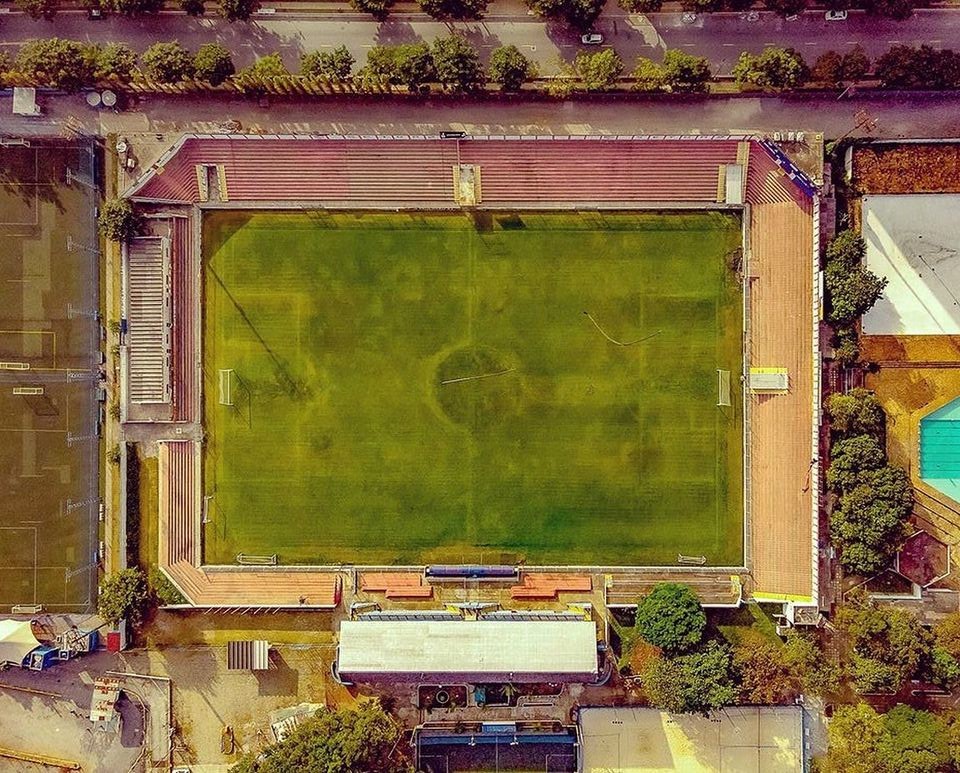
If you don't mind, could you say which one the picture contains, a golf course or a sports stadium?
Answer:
sports stadium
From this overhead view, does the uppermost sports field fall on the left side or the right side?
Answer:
left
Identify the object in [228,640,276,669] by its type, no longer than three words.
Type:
shed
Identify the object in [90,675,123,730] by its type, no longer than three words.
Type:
trailer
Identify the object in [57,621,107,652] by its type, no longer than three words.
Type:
trailer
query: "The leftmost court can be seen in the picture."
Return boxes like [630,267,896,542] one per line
[412,721,581,773]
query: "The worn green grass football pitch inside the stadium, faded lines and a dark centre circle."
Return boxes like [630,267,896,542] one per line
[203,211,742,565]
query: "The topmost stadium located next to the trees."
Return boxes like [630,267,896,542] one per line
[124,134,820,614]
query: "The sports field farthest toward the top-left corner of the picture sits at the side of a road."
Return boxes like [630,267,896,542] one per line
[0,138,98,370]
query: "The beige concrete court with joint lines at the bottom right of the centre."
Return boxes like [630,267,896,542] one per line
[578,705,804,773]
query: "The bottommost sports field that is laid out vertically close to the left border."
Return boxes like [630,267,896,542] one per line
[0,366,98,614]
